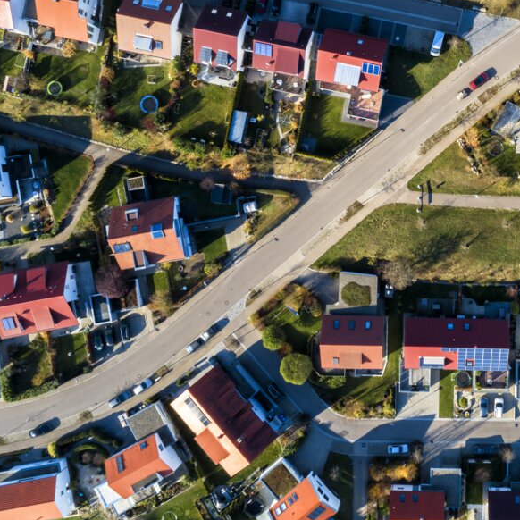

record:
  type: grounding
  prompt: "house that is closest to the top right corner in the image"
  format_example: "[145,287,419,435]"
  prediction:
[316,27,388,94]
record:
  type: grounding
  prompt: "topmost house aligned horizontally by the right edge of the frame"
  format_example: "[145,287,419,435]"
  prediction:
[404,317,512,370]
